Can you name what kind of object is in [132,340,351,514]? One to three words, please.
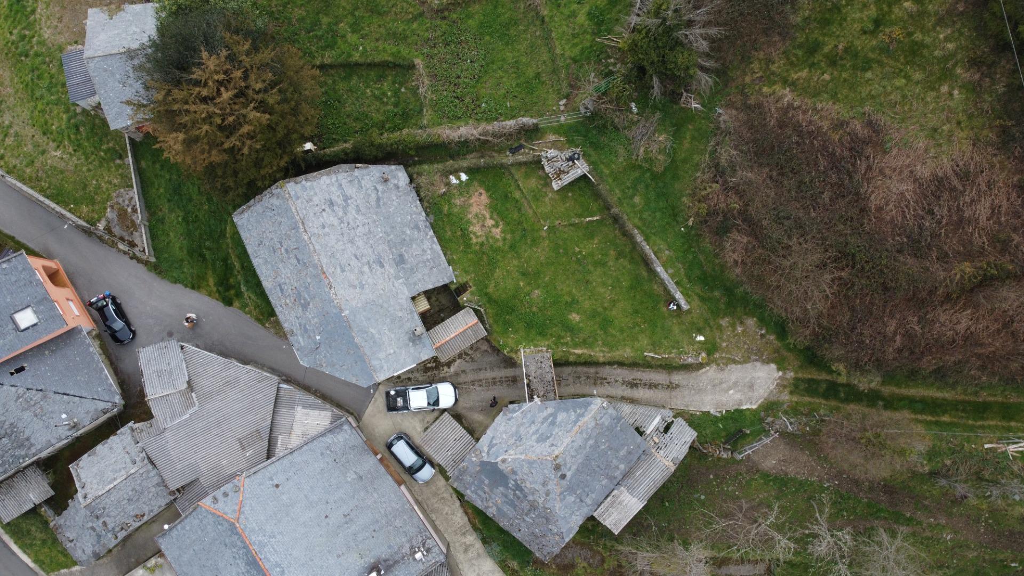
barn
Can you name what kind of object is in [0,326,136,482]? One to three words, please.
house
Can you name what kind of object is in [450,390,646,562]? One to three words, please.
house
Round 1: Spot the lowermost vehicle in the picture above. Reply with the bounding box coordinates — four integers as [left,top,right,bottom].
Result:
[385,430,435,483]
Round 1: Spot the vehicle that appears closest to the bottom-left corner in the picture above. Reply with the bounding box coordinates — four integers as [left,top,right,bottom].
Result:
[84,290,143,346]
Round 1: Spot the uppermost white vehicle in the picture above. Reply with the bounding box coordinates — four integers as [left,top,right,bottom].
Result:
[383,379,460,414]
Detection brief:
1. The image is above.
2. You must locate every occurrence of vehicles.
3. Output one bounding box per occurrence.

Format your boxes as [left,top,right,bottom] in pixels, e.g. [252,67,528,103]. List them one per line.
[84,290,143,346]
[383,379,460,414]
[385,430,435,483]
